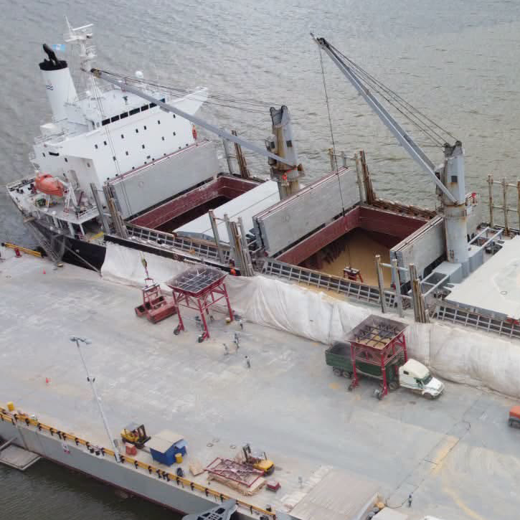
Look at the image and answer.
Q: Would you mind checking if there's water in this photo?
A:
Yes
